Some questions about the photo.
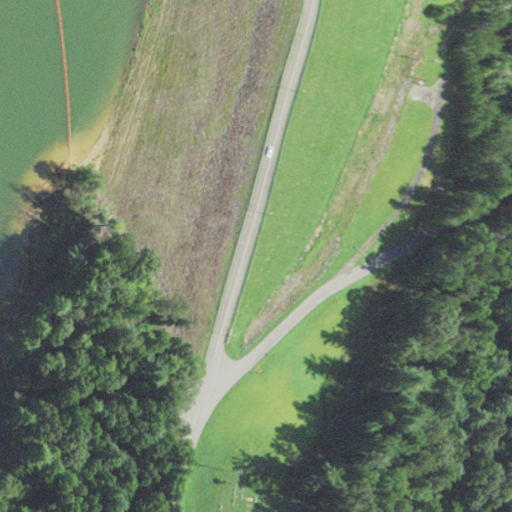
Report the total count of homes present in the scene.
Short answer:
0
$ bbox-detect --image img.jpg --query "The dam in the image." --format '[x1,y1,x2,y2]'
[77,0,410,352]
